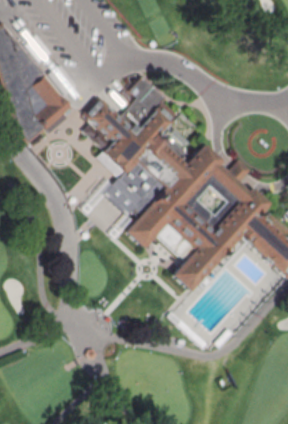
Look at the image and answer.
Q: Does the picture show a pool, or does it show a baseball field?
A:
pool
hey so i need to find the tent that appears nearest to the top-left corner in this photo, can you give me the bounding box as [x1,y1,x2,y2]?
[20,24,52,62]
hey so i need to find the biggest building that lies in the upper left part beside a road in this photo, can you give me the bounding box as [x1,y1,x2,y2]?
[28,77,70,134]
